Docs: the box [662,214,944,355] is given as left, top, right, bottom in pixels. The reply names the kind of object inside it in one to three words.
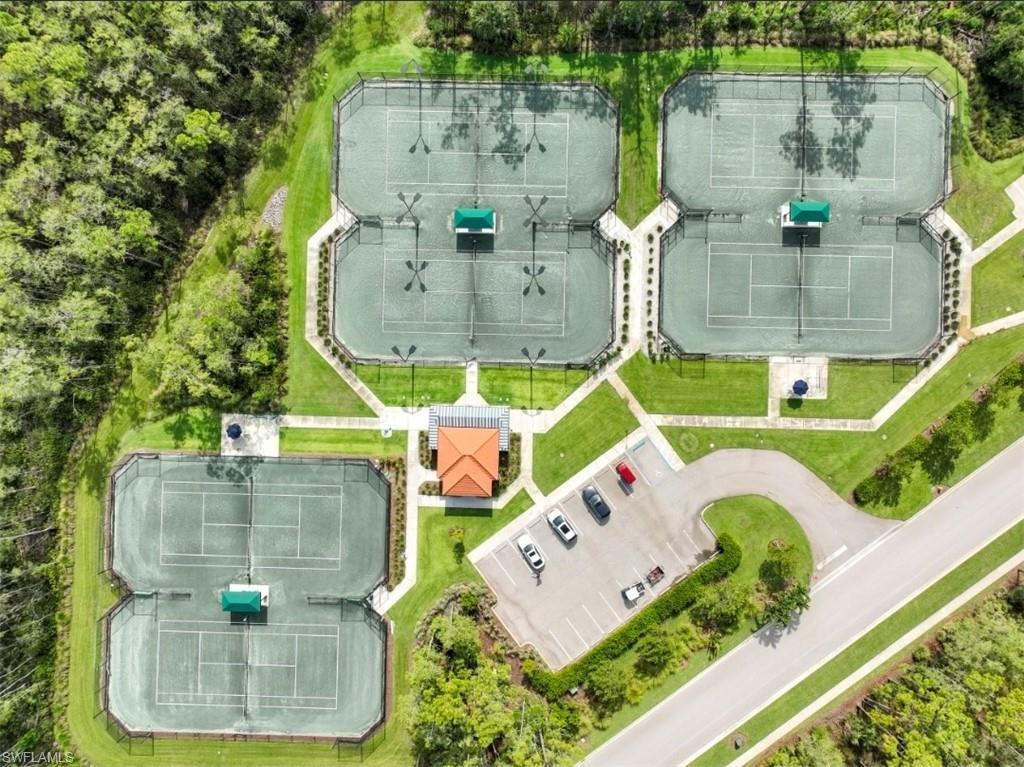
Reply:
tennis court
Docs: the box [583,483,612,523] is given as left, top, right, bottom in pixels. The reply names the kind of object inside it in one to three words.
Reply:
car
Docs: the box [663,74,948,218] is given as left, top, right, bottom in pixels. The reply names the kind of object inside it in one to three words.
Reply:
tennis court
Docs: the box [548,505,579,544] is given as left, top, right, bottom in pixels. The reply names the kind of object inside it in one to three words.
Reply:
car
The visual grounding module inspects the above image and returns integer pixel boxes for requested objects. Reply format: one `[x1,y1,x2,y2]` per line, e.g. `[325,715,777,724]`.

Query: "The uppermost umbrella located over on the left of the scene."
[226,423,242,439]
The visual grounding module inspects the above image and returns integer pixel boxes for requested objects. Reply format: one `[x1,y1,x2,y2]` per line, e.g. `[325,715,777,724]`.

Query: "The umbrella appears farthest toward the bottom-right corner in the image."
[792,379,809,396]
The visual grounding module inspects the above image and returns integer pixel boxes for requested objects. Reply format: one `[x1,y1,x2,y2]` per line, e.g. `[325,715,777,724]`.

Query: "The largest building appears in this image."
[429,405,510,496]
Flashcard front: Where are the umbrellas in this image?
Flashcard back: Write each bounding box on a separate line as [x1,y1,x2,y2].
[792,379,809,396]
[226,423,242,439]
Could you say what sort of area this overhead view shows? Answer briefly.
sports ground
